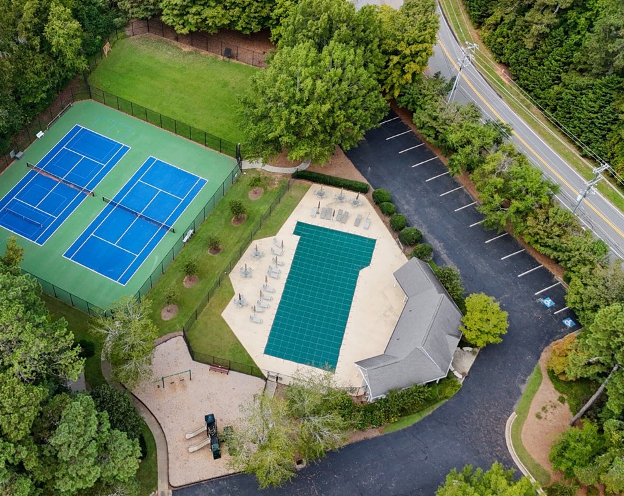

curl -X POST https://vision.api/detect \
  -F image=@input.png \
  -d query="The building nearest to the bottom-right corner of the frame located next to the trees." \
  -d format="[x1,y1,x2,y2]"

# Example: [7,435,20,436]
[354,258,462,403]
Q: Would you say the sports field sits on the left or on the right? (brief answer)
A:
left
